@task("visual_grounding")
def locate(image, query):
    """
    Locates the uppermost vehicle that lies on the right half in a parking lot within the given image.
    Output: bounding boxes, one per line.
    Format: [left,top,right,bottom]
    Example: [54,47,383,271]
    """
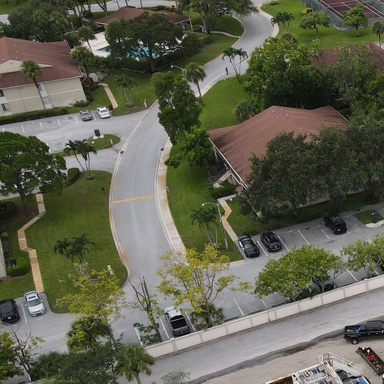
[324,213,345,231]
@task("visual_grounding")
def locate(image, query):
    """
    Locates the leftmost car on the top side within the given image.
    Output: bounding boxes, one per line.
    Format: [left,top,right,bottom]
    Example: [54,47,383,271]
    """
[78,106,93,118]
